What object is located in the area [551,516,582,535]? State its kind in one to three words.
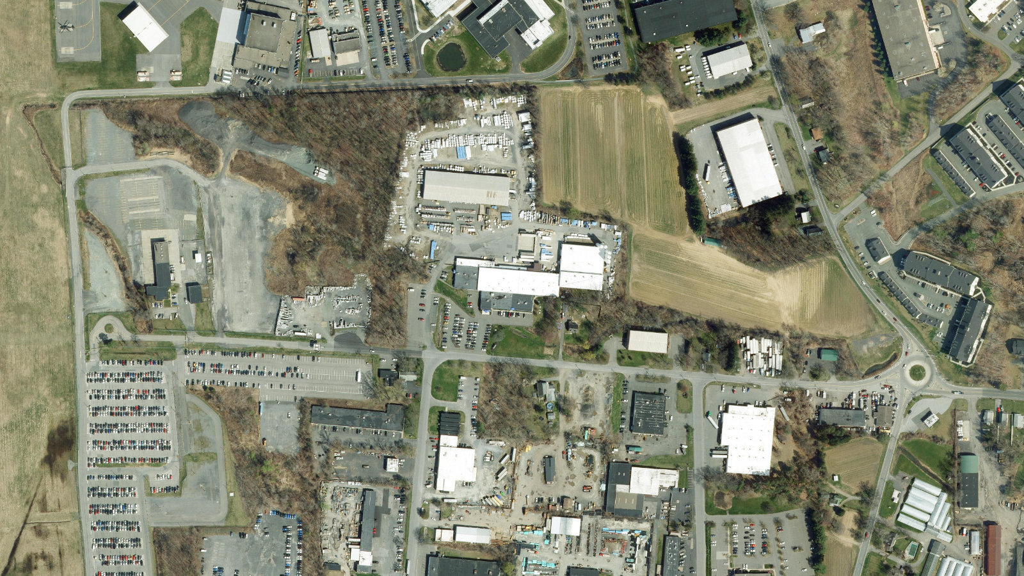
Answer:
shed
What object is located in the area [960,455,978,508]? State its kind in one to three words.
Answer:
barn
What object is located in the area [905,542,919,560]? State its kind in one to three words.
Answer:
swimming pool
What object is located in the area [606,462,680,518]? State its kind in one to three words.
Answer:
building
